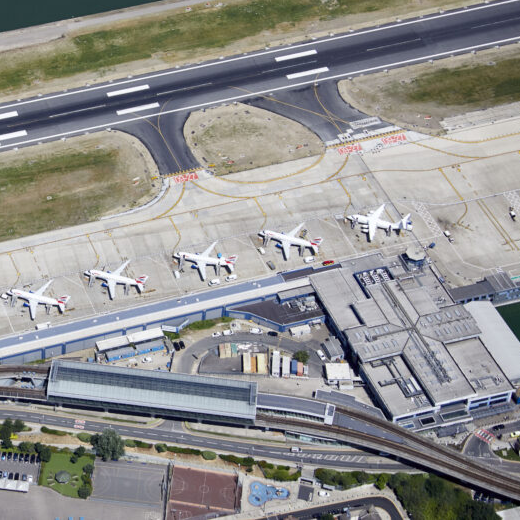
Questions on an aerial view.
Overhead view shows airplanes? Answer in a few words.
Yes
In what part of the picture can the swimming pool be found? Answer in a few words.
bottom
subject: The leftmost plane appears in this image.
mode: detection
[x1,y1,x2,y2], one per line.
[6,277,73,318]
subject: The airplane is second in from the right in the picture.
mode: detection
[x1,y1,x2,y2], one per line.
[258,219,324,259]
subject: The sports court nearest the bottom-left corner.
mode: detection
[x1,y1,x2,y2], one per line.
[92,460,170,520]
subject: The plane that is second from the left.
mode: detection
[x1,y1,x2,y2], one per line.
[82,257,149,298]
